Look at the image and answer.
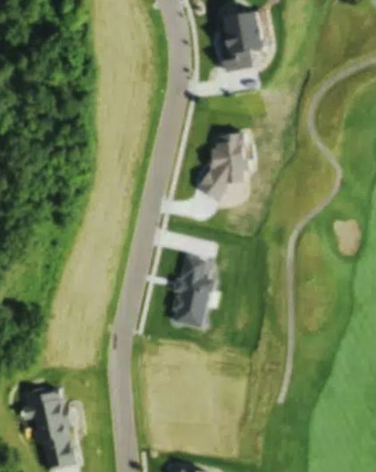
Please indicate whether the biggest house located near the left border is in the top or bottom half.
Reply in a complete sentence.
The biggest house located near the left border is in the bottom half of the image.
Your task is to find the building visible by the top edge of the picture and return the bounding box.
[216,9,264,73]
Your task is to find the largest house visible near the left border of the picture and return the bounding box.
[17,385,77,469]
